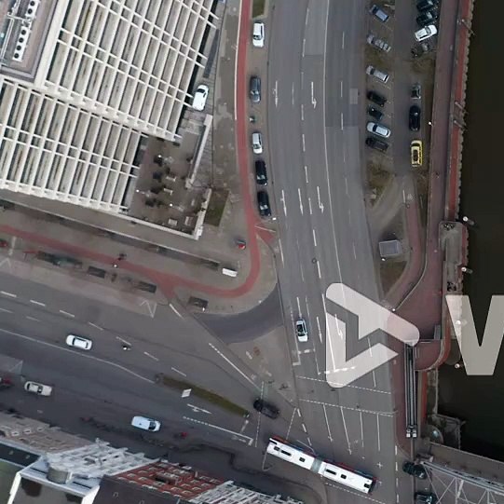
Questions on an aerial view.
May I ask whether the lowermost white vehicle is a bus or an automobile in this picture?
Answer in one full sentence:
I'd say the lowermost white vehicle is a bus.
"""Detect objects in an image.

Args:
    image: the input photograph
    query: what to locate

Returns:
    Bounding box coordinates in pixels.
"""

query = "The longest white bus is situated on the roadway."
[264,439,375,491]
